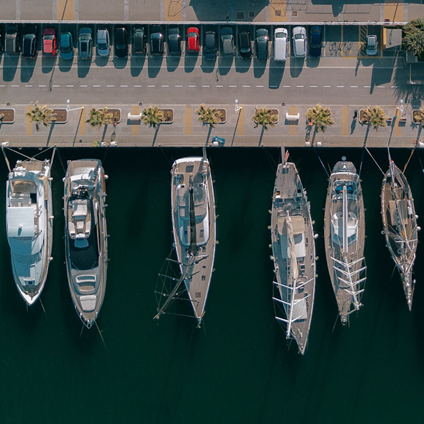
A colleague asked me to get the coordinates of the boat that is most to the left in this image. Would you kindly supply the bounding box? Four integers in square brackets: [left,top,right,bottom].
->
[1,147,56,312]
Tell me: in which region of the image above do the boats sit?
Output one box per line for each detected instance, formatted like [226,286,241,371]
[149,147,219,343]
[315,148,372,329]
[365,142,422,310]
[57,149,109,346]
[1,147,56,312]
[265,146,319,356]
